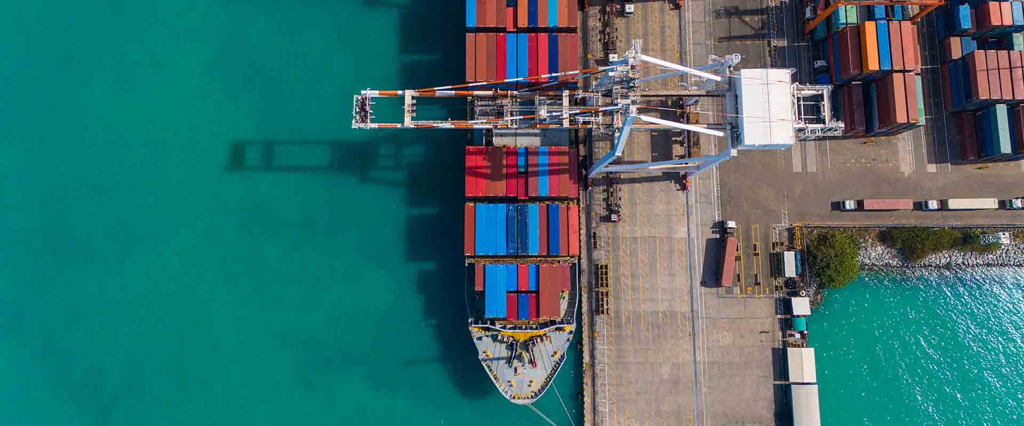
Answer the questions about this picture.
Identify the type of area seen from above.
port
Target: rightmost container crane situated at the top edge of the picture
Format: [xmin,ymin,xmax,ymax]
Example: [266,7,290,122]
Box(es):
[801,0,945,39]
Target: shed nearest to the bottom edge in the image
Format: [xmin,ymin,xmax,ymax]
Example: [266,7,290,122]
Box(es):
[786,384,821,426]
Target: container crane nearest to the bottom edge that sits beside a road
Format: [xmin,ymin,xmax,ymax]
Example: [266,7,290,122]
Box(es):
[349,35,847,191]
